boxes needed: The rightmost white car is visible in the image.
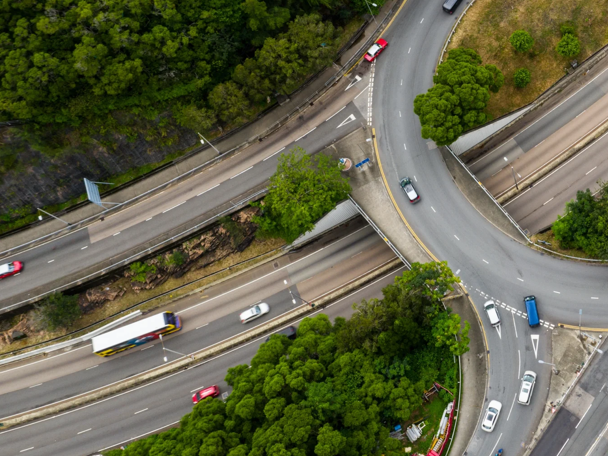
[516,368,538,407]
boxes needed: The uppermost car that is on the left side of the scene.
[0,260,26,280]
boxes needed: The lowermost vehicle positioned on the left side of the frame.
[191,383,223,405]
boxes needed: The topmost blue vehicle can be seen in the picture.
[521,295,540,330]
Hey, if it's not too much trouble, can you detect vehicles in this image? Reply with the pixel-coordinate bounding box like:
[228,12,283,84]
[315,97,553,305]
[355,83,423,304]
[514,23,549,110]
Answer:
[363,38,391,64]
[479,396,504,437]
[92,308,188,359]
[516,368,538,407]
[237,300,272,325]
[483,298,502,331]
[399,175,420,208]
[521,295,540,330]
[191,383,223,405]
[0,260,26,280]
[442,0,462,16]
